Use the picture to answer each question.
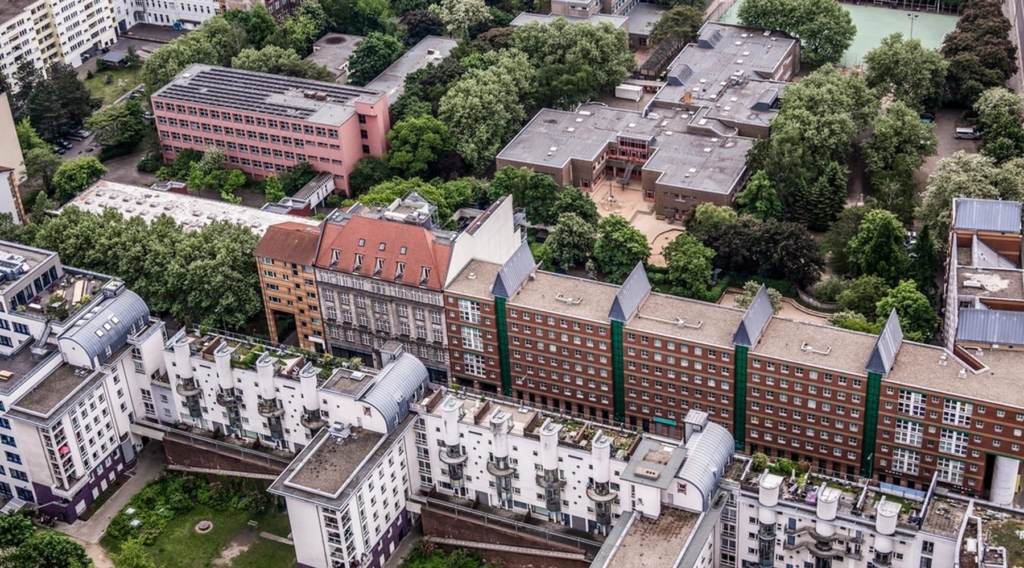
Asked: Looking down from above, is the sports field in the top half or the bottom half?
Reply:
top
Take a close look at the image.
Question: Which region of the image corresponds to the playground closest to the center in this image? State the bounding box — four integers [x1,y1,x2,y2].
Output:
[577,170,689,272]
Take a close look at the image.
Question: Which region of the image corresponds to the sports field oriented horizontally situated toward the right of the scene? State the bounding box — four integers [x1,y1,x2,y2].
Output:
[719,0,961,73]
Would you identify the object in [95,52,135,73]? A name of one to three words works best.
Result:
shed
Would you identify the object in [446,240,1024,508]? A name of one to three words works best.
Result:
building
